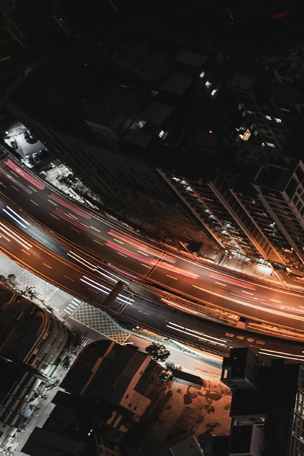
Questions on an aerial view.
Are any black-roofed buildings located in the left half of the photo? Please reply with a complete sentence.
Yes, a black-roofed building shows up in the left half of the photo.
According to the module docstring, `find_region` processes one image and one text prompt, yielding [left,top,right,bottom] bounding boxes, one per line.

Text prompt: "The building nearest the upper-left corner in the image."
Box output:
[2,40,225,218]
